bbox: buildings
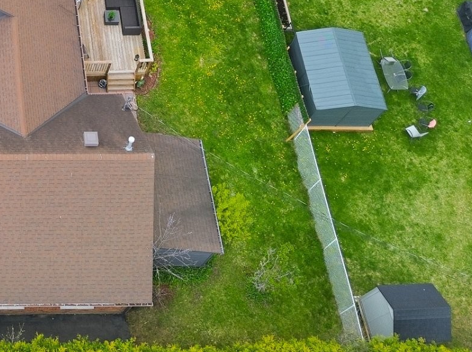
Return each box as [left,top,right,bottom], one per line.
[360,287,461,343]
[0,0,226,314]
[288,25,388,134]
